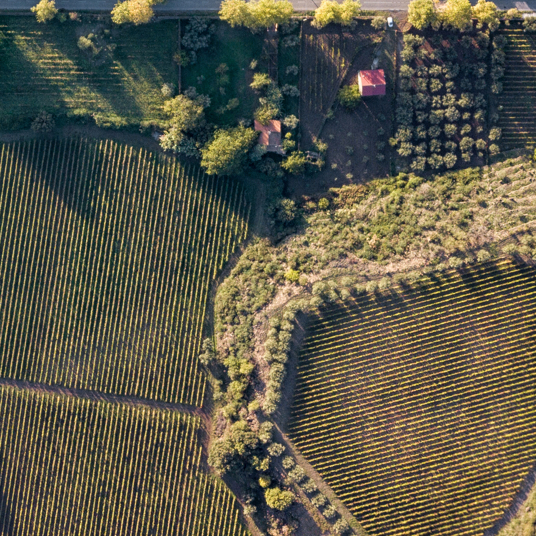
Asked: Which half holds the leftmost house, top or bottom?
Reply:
top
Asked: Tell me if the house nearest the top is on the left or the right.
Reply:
right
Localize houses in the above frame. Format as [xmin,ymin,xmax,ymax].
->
[356,69,386,97]
[252,120,284,154]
